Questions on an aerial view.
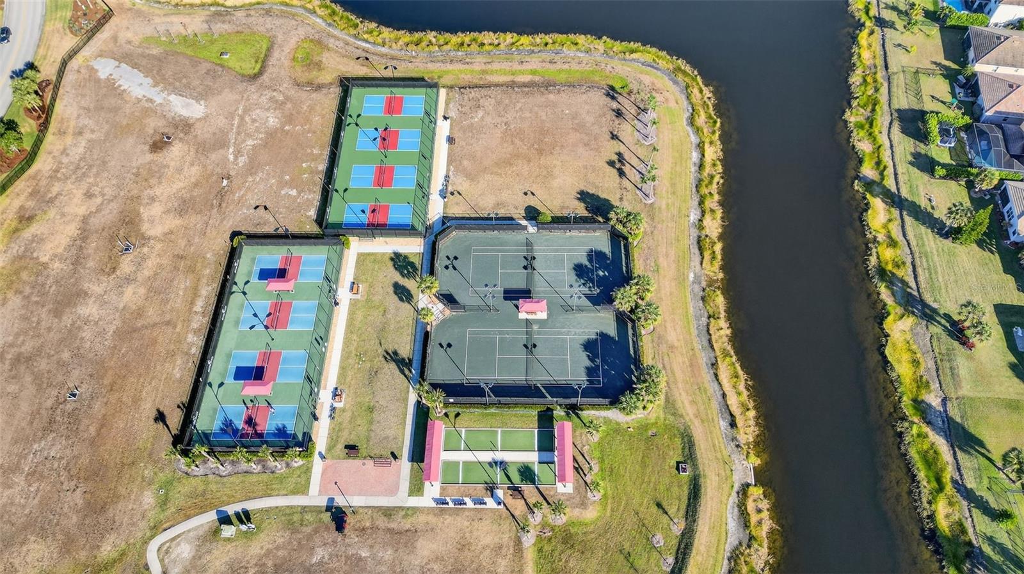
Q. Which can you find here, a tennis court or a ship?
tennis court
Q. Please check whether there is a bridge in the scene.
No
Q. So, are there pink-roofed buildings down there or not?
Yes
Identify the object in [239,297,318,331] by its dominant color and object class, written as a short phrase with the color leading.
blue sports court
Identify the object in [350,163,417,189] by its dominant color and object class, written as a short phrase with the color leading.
blue sports court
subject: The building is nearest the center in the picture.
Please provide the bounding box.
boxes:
[518,299,547,319]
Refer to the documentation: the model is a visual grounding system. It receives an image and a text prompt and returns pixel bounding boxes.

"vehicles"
[0,28,12,43]
[334,516,348,534]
